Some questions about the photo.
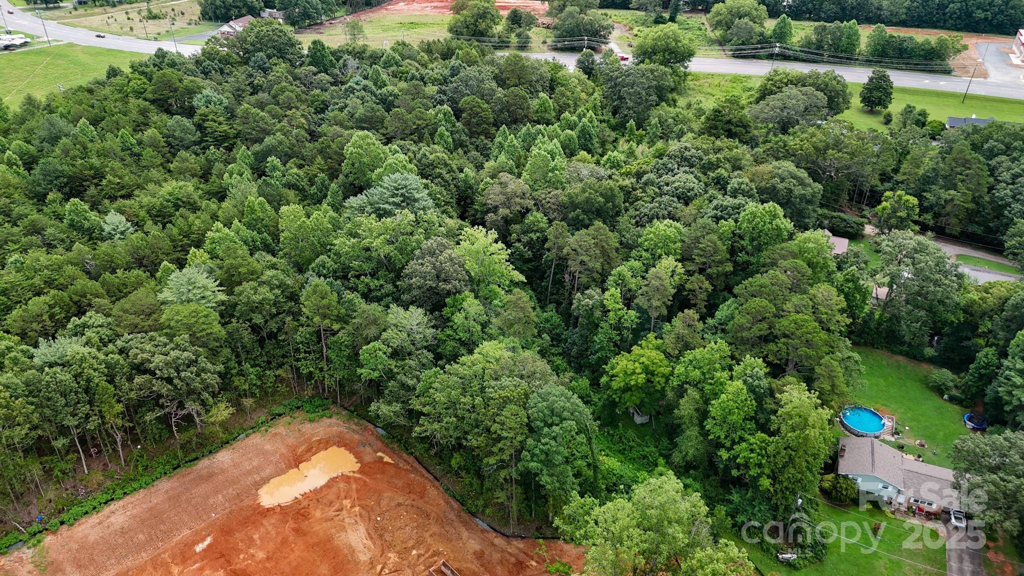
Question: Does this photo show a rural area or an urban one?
rural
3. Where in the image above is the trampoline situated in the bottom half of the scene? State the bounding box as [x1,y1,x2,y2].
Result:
[962,413,990,432]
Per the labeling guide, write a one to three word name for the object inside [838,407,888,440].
swimming pool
